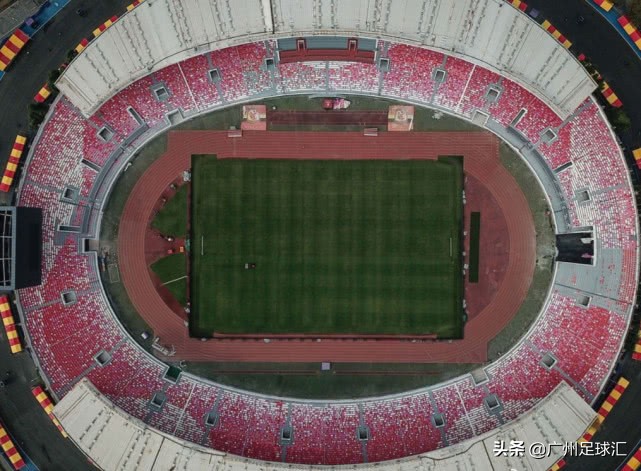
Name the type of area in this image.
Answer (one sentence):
This looks like a sports ground.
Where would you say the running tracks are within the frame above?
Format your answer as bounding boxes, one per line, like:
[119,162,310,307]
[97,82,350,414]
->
[118,131,536,363]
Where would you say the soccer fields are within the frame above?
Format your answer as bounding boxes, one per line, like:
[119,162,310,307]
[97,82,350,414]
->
[190,154,464,339]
